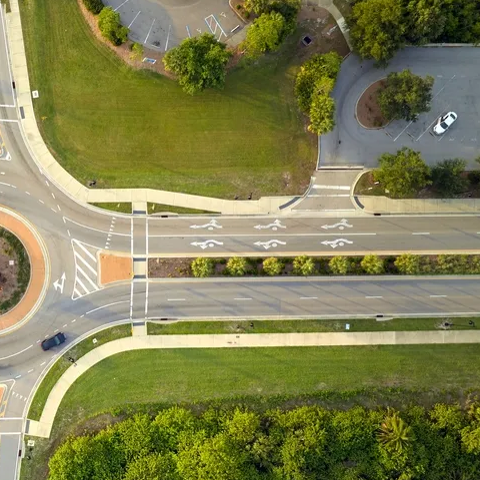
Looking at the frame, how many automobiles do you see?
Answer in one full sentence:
Altogether the scene contains 2 automobiles.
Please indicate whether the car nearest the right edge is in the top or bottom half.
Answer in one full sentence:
The car nearest the right edge sits in the top half of the picture.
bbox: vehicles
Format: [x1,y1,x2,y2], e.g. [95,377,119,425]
[431,109,459,136]
[41,332,66,351]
